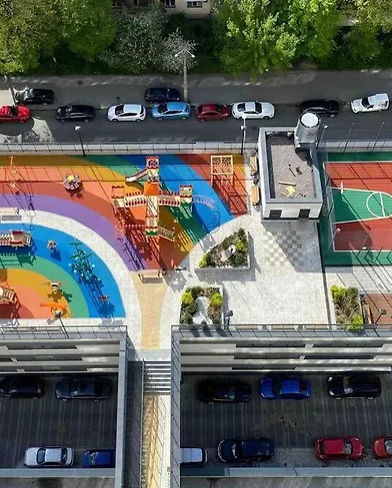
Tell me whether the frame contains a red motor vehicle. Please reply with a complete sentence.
Yes, the image includes a red motor vehicle.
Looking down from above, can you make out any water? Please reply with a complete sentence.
No, the scene doesn't show any water.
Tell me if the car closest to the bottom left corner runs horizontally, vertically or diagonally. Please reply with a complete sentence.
The car closest to the bottom left corner is oriented horizontally.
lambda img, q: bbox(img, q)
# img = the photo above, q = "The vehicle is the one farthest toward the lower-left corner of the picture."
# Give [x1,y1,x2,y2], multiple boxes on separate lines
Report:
[22,445,75,470]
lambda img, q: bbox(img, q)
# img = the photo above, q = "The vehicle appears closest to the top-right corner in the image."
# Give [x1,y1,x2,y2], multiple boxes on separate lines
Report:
[349,90,392,116]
